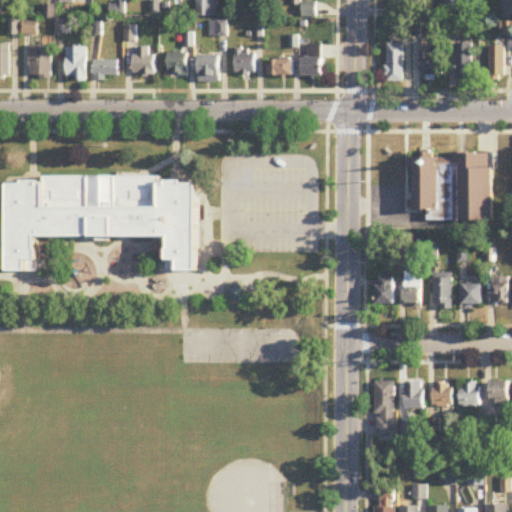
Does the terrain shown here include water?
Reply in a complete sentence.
No, water can't be seen anywhere here.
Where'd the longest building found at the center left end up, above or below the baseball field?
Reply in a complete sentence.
The longest building found at the center left is above the baseball field.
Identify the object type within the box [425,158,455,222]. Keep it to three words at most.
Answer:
building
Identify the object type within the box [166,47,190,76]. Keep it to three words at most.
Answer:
house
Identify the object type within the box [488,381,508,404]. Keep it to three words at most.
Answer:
house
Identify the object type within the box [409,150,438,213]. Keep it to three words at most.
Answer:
building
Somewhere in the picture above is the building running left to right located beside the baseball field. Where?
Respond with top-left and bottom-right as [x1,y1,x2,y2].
[2,174,202,272]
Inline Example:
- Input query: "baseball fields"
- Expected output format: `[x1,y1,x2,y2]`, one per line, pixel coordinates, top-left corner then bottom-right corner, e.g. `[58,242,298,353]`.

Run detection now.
[0,332,322,512]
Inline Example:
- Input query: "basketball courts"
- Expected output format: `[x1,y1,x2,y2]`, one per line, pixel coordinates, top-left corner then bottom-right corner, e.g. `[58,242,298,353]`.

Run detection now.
[184,328,300,363]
